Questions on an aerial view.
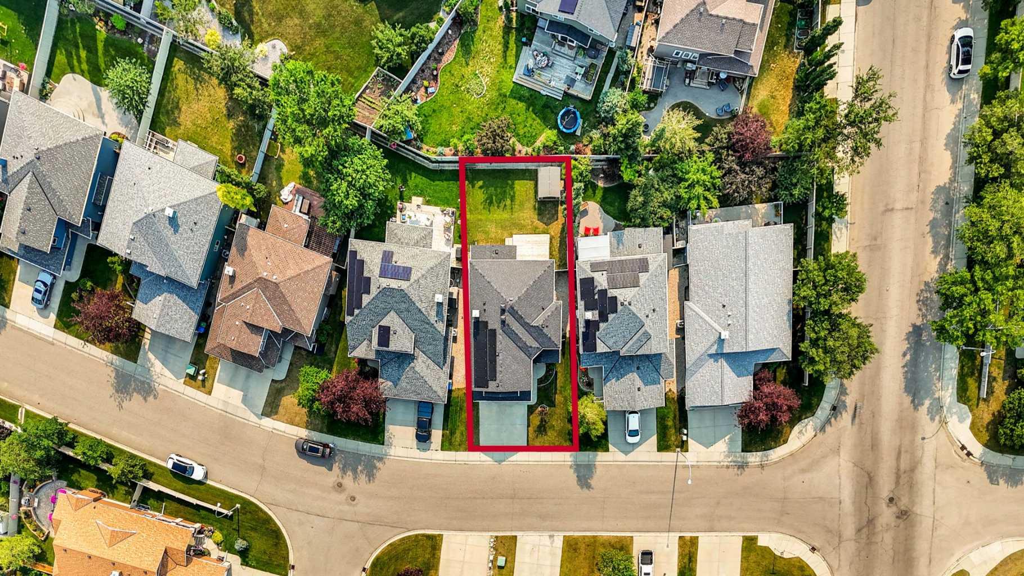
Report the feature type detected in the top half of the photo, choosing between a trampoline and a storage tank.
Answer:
trampoline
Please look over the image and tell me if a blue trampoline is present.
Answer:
Yes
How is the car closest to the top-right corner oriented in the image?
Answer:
from top to bottom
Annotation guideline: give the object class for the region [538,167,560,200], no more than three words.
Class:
shed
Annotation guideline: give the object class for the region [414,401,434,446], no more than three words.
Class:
vehicle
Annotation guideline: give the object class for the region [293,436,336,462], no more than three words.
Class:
car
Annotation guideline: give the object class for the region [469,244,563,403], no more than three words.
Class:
house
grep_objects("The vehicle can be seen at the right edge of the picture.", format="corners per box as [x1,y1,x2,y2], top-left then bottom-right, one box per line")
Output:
[949,29,974,78]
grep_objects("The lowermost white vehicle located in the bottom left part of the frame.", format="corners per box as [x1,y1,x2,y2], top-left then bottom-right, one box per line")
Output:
[164,453,207,482]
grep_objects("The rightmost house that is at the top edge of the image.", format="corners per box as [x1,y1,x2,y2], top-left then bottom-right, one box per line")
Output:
[653,0,775,78]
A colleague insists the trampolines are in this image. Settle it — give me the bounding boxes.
[557,106,583,135]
